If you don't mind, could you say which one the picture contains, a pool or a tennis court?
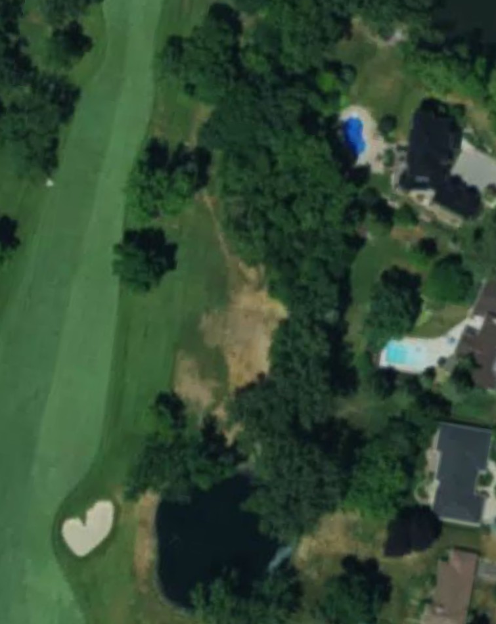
pool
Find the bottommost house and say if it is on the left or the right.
right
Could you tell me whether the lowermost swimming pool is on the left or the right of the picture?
right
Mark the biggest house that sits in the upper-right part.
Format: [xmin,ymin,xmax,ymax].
[400,110,482,218]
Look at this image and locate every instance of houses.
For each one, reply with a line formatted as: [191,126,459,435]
[423,549,478,624]
[457,277,496,383]
[433,423,492,522]
[400,110,482,218]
